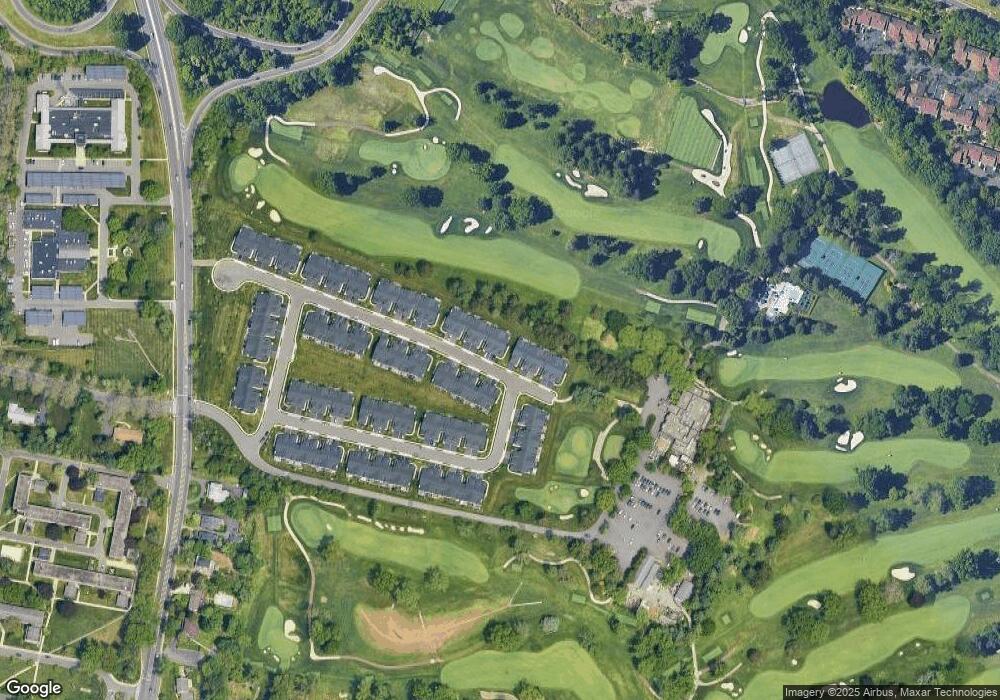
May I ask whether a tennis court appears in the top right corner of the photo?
Yes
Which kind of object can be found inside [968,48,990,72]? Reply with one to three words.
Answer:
house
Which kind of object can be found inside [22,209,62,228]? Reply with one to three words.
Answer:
building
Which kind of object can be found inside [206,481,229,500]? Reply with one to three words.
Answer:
house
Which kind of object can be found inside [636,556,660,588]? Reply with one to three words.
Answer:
barn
